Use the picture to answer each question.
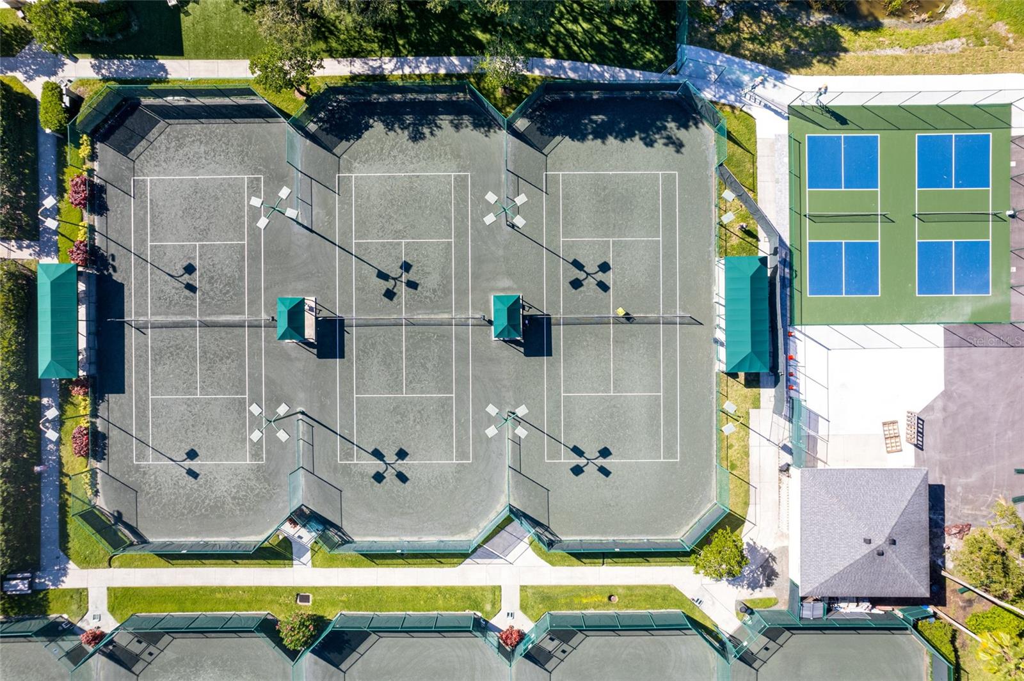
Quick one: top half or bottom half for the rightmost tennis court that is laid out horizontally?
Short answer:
bottom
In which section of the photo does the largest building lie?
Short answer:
bottom right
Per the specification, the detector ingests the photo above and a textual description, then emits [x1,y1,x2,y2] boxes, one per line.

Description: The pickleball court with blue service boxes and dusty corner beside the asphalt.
[898,104,1011,324]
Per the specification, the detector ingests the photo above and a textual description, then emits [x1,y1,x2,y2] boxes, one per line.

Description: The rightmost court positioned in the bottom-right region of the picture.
[718,611,926,681]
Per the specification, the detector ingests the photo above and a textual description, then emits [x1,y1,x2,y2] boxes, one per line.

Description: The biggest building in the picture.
[791,466,930,598]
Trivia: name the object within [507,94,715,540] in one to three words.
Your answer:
tennis court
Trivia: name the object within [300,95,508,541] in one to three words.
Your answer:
tennis court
